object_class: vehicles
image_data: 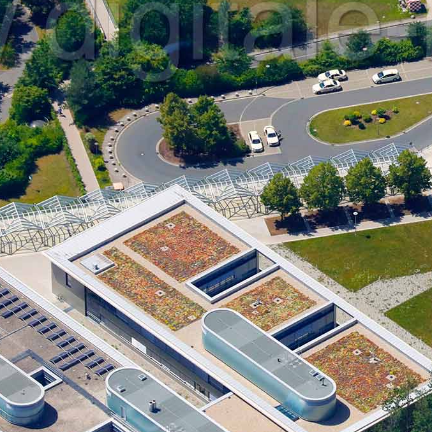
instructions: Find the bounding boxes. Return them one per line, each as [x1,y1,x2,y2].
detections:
[264,126,284,145]
[373,67,398,83]
[312,79,342,93]
[248,132,262,151]
[320,67,348,81]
